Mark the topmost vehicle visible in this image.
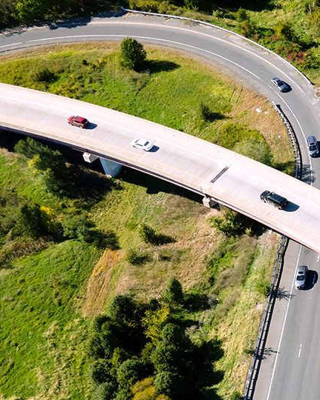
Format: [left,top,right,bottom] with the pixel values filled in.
[272,77,290,93]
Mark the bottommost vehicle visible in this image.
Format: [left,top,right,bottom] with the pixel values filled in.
[294,264,310,289]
